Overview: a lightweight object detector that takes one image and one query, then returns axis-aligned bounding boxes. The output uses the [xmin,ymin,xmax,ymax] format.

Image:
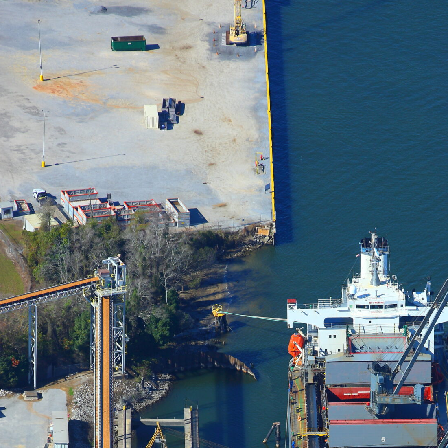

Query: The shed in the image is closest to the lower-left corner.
[50,409,69,448]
